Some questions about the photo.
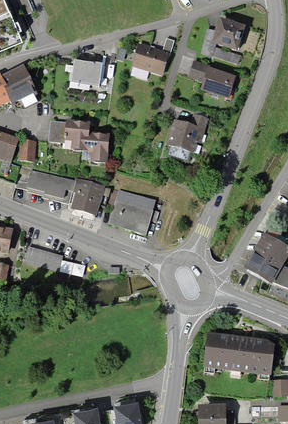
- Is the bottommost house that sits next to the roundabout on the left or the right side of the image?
right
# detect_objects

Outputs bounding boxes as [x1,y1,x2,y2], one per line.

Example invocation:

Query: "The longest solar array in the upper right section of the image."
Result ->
[202,79,234,98]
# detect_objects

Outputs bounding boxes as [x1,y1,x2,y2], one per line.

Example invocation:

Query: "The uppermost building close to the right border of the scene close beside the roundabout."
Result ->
[246,232,288,288]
